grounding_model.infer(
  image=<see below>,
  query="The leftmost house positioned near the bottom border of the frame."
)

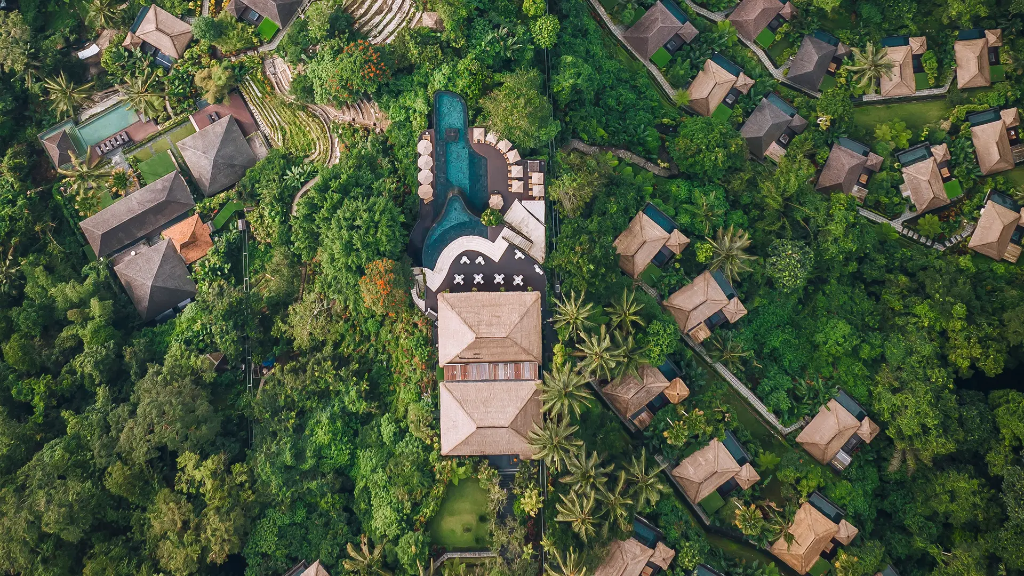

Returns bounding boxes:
[593,536,655,576]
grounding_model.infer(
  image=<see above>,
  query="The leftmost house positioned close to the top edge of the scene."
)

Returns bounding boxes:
[135,3,194,60]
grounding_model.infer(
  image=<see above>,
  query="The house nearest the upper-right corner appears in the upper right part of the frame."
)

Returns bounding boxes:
[952,37,992,90]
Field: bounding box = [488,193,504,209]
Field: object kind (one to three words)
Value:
umbrella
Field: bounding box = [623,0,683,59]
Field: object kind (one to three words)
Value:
house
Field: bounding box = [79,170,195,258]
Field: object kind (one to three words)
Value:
building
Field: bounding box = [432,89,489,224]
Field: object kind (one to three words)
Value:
swimming pool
